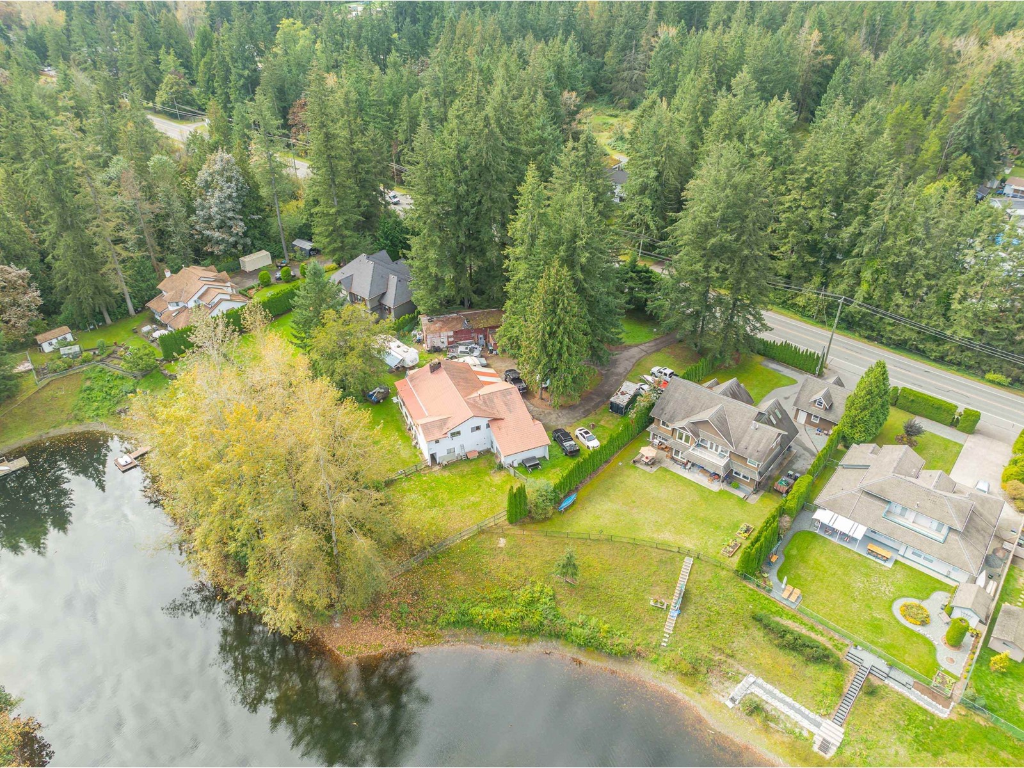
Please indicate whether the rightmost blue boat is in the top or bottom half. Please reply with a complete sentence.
The bottom half of the photo is where the rightmost blue boat is.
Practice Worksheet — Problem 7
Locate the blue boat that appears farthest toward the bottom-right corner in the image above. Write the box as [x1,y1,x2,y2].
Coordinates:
[558,494,578,514]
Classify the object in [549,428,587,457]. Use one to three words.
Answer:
truck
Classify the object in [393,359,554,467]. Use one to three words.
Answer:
house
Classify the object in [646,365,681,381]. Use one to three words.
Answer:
car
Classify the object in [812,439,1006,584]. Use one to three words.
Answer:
house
